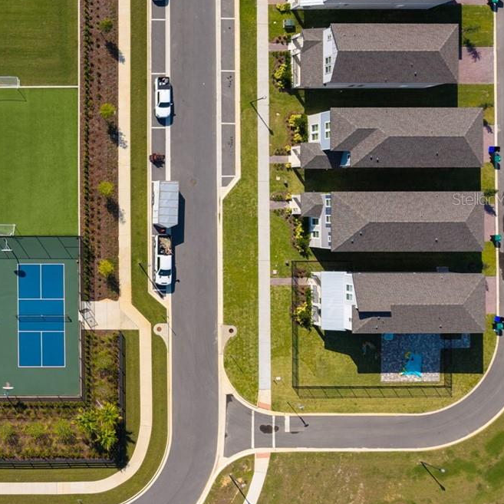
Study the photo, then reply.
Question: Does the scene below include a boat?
No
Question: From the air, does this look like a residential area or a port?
residential area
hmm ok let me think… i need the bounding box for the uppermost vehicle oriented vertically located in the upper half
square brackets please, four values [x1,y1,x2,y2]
[153,77,174,120]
